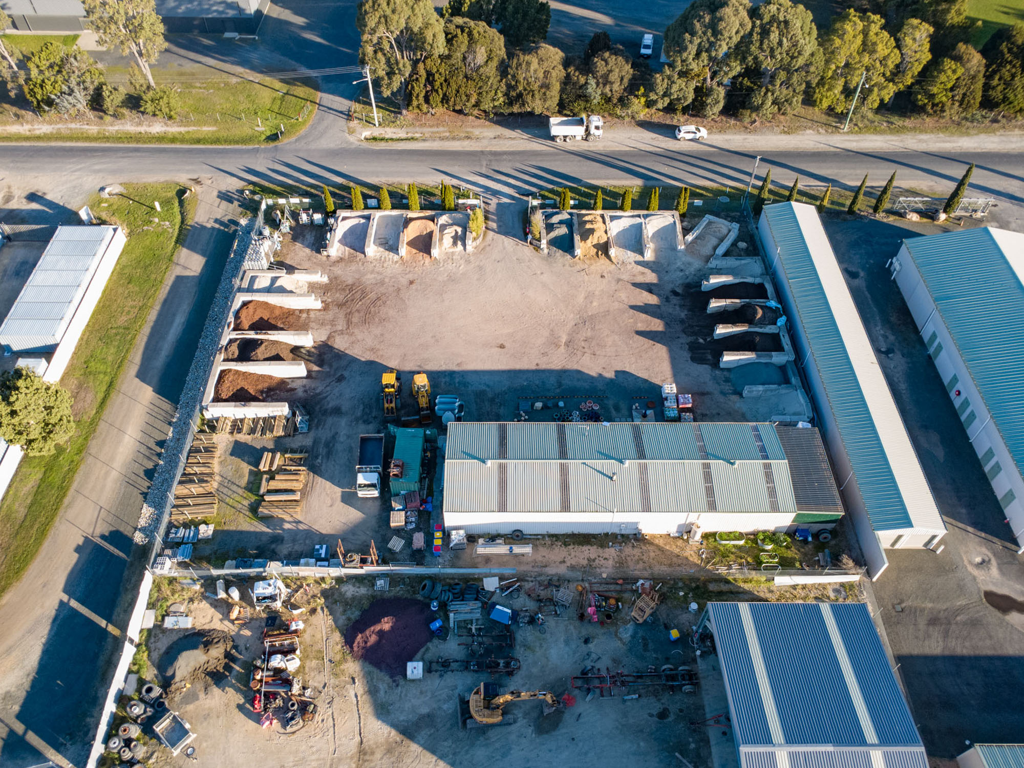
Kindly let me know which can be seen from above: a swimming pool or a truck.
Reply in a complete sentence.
It is a truck that can be seen here.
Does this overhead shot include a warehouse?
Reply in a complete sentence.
Yes, a warehouse appears in the view.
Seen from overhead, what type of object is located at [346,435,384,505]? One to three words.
truck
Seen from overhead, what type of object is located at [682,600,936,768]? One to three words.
building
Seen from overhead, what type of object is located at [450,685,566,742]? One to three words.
work vehicle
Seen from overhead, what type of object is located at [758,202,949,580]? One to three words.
shed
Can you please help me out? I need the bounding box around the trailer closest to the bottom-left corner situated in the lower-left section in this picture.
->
[147,711,192,768]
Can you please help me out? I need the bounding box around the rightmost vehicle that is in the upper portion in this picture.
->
[676,124,710,141]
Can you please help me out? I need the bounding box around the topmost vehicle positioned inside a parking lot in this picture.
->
[640,34,655,56]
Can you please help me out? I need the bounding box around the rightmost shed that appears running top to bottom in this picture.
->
[892,228,1024,551]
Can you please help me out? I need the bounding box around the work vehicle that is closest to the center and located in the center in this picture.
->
[409,366,436,426]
